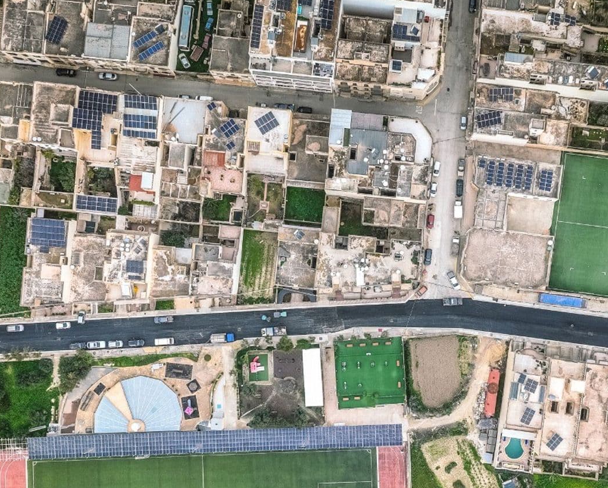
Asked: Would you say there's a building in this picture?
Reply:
Yes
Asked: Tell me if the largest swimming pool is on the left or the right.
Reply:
right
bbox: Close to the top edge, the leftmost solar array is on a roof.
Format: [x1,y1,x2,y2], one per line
[48,15,66,42]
